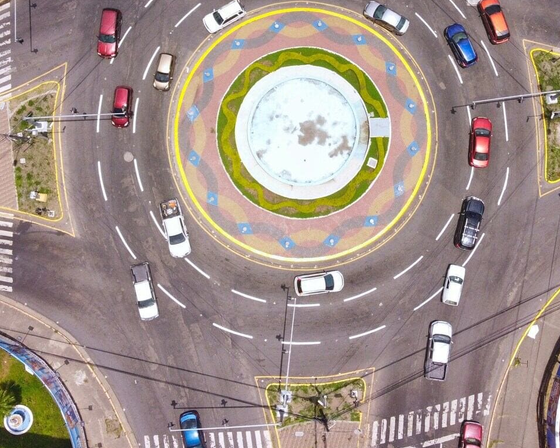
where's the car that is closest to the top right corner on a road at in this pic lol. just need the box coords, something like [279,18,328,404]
[477,0,513,45]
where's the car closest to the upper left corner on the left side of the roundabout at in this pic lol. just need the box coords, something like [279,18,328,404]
[95,7,123,58]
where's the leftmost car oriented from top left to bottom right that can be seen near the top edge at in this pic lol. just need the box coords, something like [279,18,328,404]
[363,0,412,36]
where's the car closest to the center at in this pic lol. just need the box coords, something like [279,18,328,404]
[294,268,343,296]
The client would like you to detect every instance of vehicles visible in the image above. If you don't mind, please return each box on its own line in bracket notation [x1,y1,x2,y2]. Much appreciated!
[459,420,486,448]
[109,85,134,128]
[363,0,412,36]
[443,21,480,70]
[426,320,454,382]
[294,268,343,296]
[203,0,247,32]
[441,264,467,306]
[159,198,190,257]
[129,262,160,320]
[95,7,123,58]
[151,52,176,92]
[454,196,485,250]
[477,0,513,45]
[469,117,494,168]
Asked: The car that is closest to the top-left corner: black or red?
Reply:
red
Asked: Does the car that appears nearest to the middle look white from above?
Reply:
Yes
